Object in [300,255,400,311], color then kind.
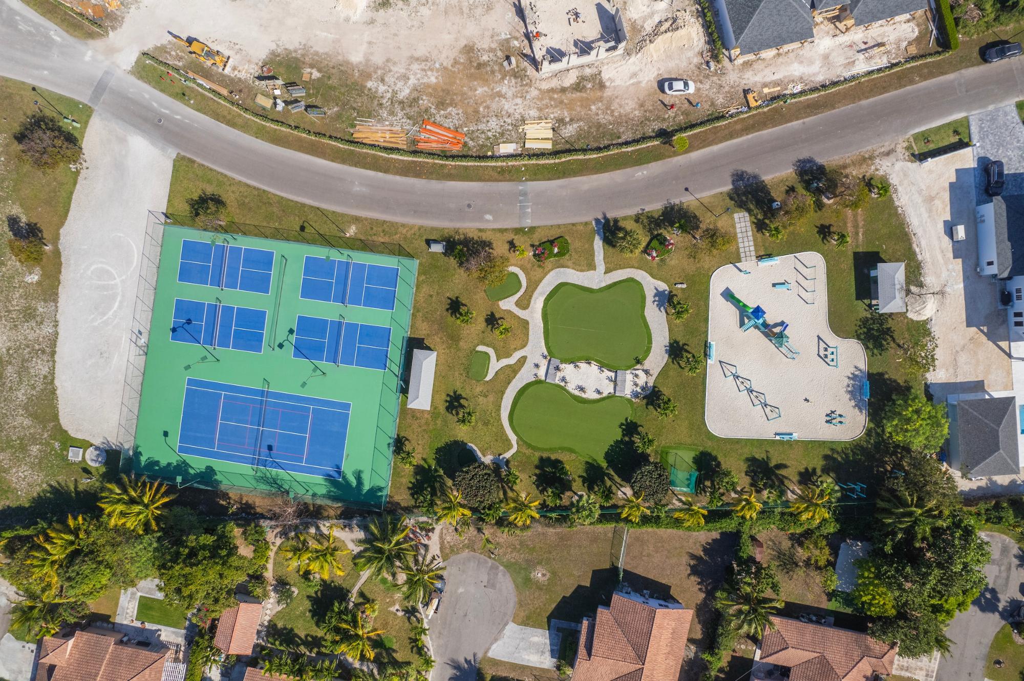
blue sports court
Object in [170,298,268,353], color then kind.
blue sports court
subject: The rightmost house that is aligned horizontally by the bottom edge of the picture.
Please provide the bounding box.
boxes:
[752,613,896,681]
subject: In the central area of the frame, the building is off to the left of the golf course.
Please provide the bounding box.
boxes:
[407,349,438,410]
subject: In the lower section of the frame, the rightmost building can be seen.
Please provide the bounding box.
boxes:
[949,396,1020,478]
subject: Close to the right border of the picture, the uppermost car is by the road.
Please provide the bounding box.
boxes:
[985,39,1024,61]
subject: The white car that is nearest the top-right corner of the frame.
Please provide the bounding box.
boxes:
[664,77,695,93]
